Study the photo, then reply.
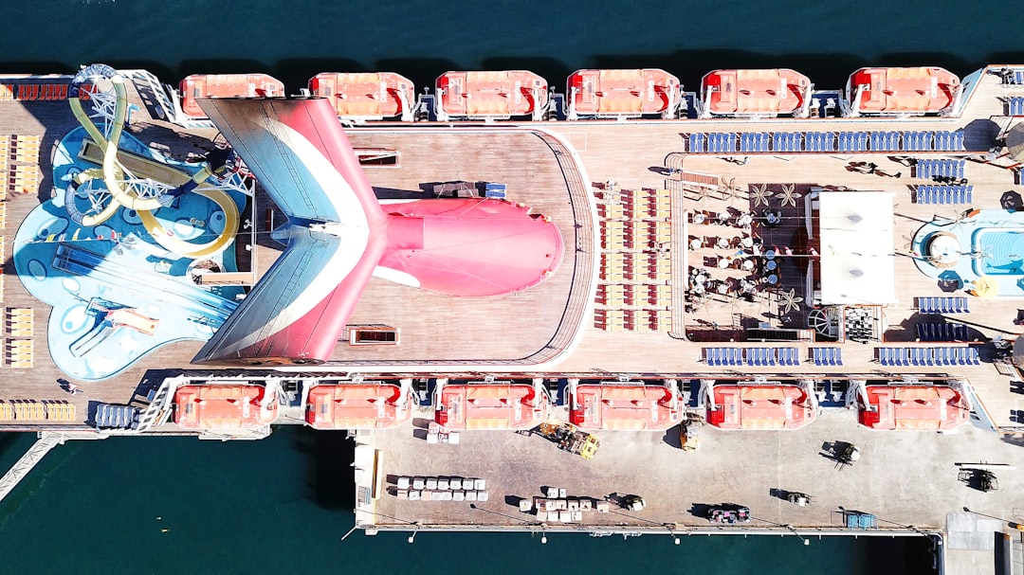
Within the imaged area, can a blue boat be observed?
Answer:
No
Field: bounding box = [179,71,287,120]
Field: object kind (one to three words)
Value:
boat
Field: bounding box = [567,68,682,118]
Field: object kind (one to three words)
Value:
boat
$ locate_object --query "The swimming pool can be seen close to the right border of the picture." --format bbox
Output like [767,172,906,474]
[909,207,1024,297]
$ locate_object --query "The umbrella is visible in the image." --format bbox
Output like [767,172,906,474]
[970,273,997,299]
